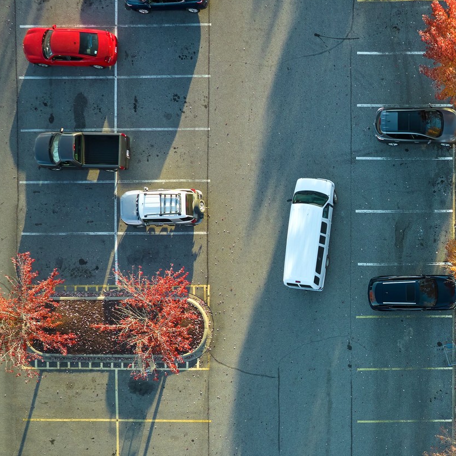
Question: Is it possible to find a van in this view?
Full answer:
Yes, there's a van here.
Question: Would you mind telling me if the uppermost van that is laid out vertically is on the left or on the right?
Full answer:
The uppermost van that is laid out vertically is on the right side of the image.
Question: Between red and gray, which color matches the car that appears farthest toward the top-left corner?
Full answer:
The color of the car that appears farthest toward the top-left corner is red.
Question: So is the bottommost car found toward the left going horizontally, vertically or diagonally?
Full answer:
The bottommost car found toward the left is laid out horizontally.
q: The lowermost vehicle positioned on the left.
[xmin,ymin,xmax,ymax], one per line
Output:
[118,184,210,229]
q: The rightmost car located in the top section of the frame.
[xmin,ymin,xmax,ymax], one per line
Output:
[374,101,456,147]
